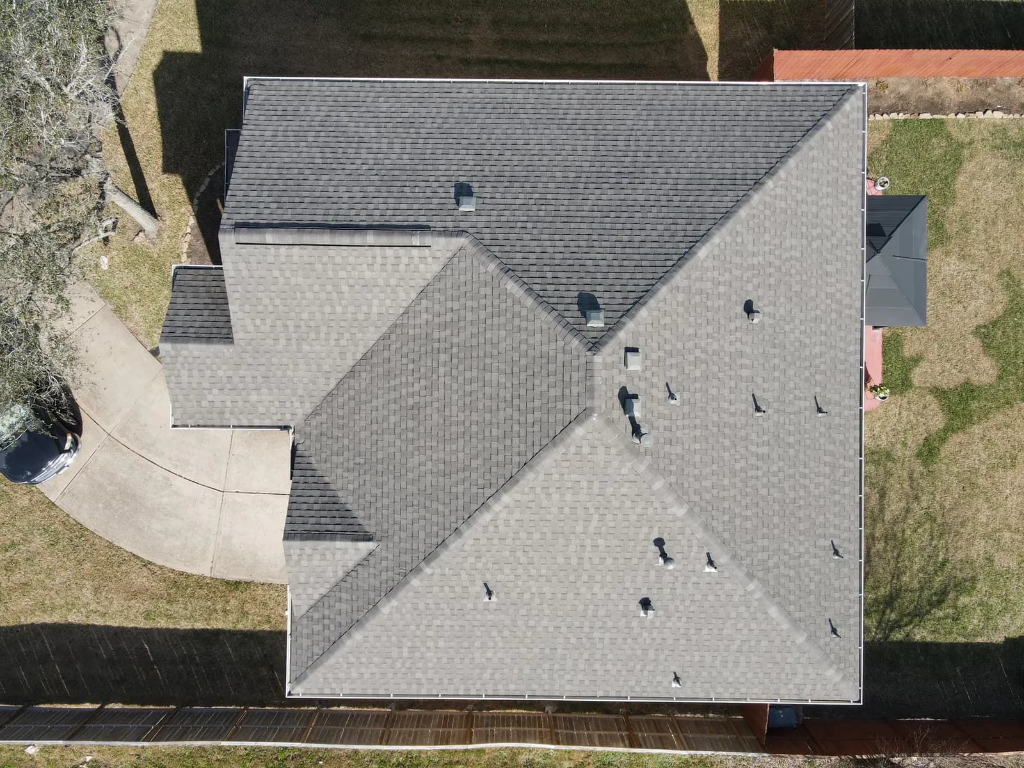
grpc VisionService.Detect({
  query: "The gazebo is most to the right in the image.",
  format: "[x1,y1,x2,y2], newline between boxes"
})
[865,194,929,328]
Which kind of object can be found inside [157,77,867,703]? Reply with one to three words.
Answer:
house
